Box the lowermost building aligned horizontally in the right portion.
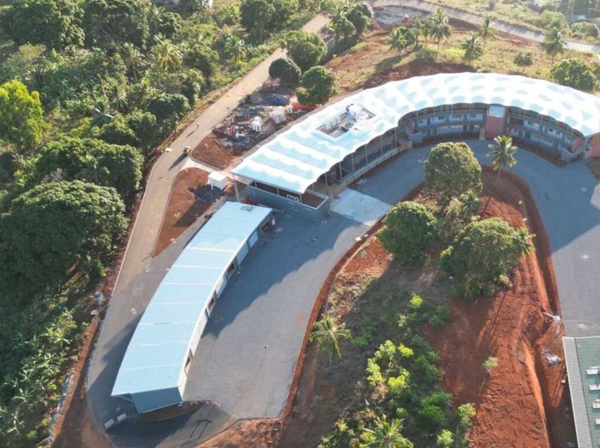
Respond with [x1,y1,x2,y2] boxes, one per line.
[230,70,600,220]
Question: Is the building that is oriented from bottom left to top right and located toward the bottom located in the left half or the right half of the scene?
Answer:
left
